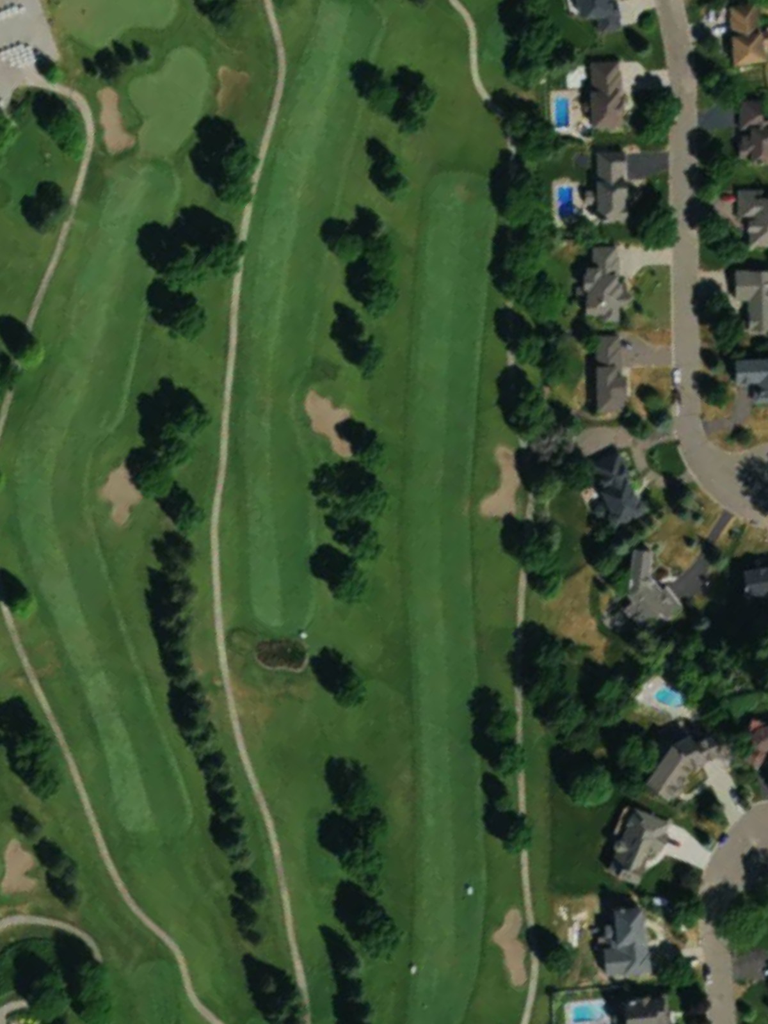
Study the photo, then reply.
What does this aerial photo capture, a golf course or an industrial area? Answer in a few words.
golf course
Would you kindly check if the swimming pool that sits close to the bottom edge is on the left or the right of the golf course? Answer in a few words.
right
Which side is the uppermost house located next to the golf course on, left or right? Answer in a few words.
right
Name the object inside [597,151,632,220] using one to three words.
house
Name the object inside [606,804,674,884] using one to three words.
house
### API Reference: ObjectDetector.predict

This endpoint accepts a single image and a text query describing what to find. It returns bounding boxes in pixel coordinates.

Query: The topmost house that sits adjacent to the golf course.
[569,0,622,31]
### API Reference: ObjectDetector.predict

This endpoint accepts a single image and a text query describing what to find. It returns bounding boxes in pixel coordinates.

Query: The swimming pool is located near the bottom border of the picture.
[573,1003,608,1024]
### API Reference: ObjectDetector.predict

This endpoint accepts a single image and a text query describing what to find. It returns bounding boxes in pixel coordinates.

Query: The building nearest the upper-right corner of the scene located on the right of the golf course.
[733,1,768,66]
